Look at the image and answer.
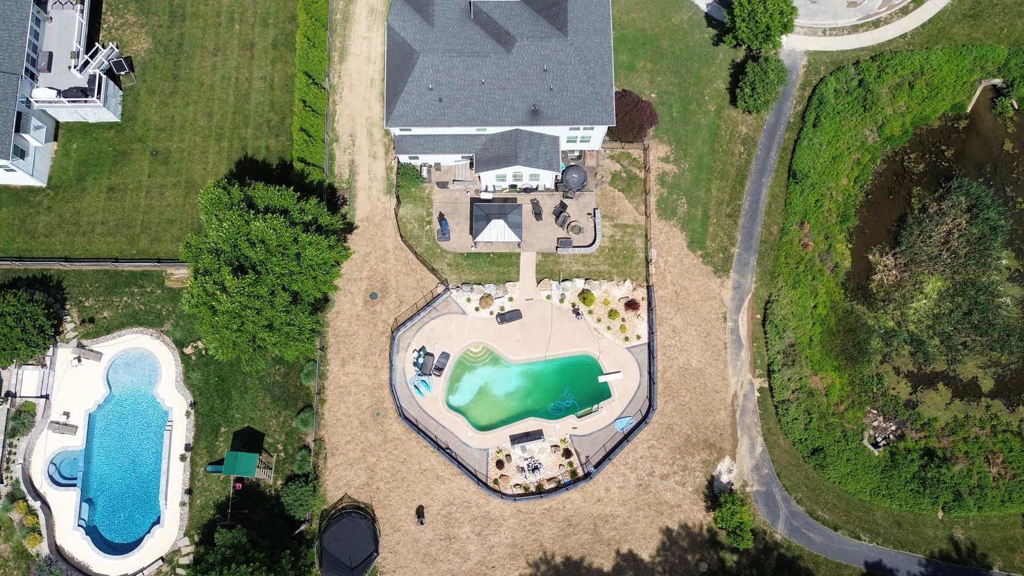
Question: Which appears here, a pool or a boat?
pool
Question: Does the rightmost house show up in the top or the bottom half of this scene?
top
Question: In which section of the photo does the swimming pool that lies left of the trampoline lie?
bottom left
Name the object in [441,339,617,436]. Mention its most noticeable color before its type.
green swimming pool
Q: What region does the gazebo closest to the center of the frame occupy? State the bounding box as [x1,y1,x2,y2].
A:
[473,202,523,250]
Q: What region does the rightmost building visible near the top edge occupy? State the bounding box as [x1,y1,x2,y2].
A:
[383,0,617,192]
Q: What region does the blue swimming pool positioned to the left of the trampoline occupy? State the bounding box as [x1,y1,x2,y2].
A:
[42,344,176,561]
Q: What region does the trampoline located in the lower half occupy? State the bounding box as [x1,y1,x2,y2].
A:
[312,510,384,576]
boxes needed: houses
[0,0,67,182]
[383,0,617,192]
